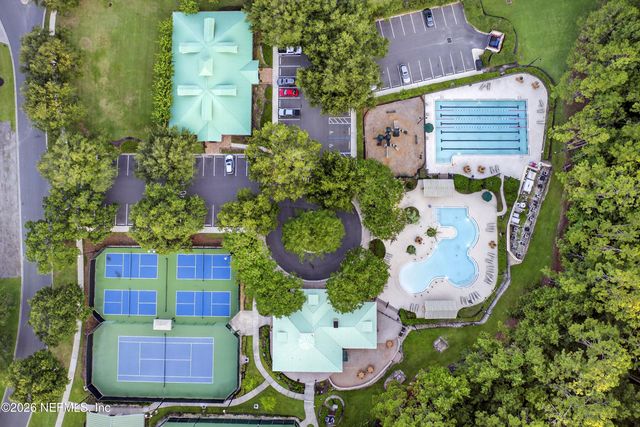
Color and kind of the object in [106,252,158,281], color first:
blue sports court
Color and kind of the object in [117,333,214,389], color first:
blue tennis court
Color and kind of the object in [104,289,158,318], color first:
blue sports court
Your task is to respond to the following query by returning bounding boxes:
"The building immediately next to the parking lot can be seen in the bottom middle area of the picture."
[272,289,377,372]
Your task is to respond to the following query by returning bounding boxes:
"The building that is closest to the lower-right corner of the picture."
[423,299,458,319]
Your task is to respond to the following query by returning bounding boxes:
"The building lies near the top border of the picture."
[169,12,259,141]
